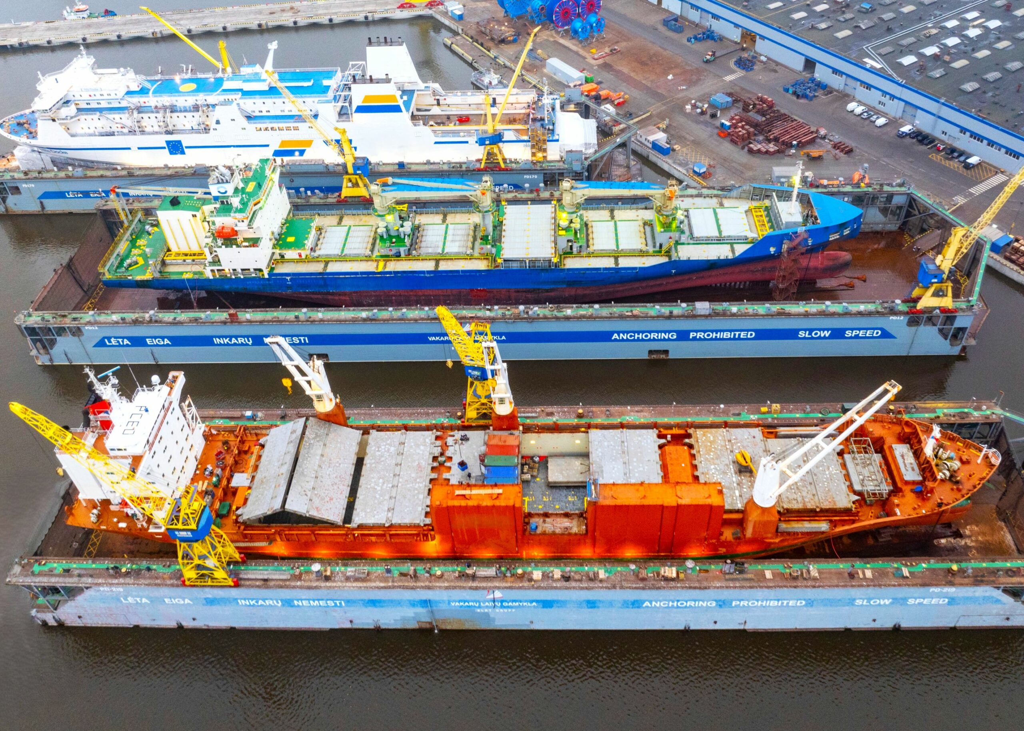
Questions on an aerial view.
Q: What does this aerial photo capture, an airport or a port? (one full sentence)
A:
It's a port.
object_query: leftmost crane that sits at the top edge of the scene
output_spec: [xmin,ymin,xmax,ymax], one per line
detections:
[136,4,240,71]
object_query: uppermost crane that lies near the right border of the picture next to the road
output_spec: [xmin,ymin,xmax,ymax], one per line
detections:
[892,164,1024,319]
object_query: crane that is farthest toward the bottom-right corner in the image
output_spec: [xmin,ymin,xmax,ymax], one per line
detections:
[736,376,910,540]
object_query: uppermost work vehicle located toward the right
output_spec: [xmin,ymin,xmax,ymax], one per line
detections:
[703,46,716,61]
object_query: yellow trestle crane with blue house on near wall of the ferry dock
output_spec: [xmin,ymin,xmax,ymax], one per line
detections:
[471,23,542,170]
